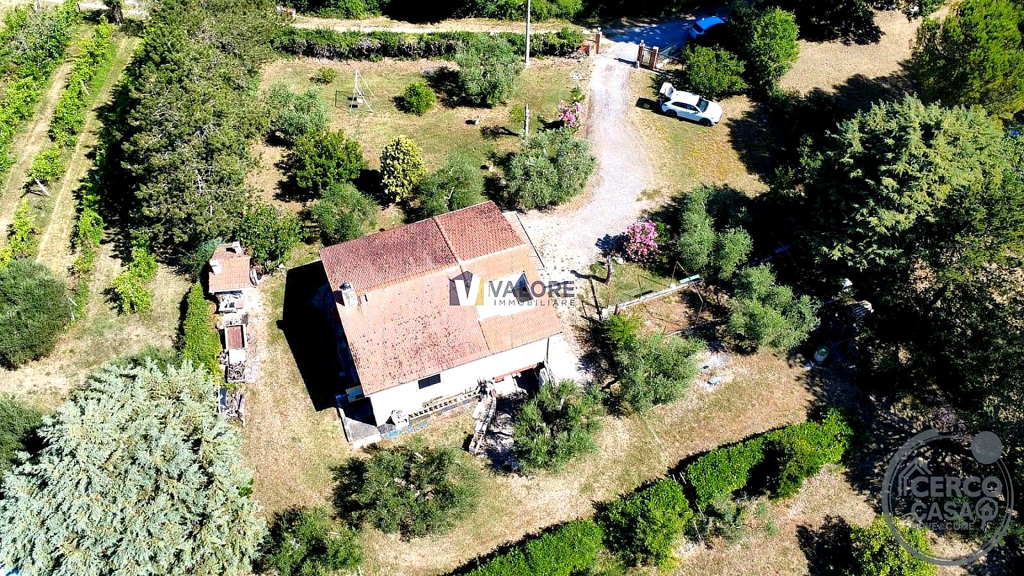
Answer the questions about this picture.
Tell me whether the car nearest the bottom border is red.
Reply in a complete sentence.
No, from above the car nearest the bottom border looks white.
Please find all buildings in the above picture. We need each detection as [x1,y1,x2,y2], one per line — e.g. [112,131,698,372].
[205,239,266,310]
[321,198,561,423]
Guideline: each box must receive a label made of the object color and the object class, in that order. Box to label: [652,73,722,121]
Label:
white car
